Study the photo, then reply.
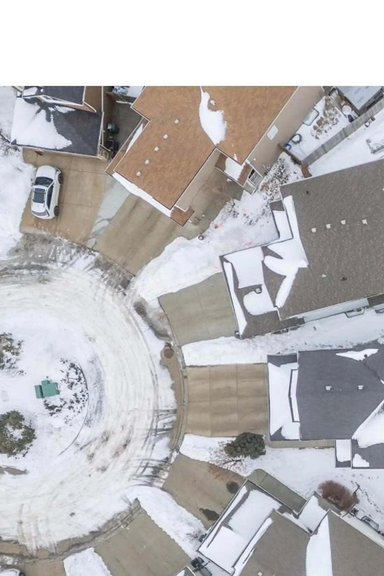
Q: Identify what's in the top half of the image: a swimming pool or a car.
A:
car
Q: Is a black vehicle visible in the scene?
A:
No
